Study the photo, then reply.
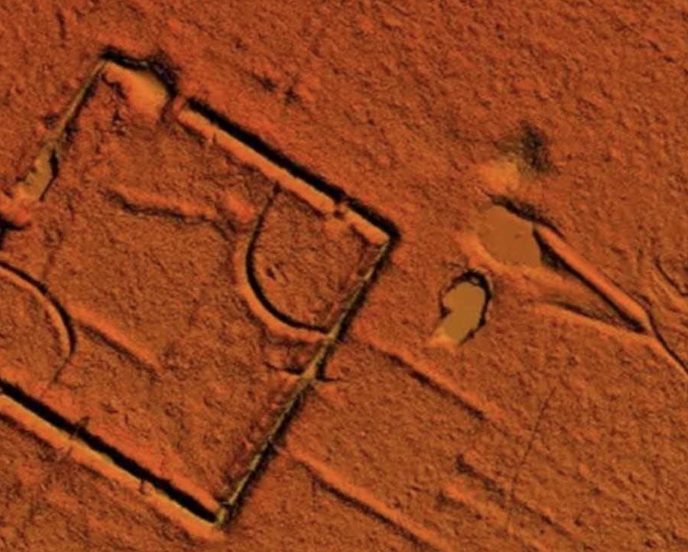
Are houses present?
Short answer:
No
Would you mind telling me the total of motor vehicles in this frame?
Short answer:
0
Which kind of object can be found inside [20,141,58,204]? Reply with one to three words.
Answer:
pond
